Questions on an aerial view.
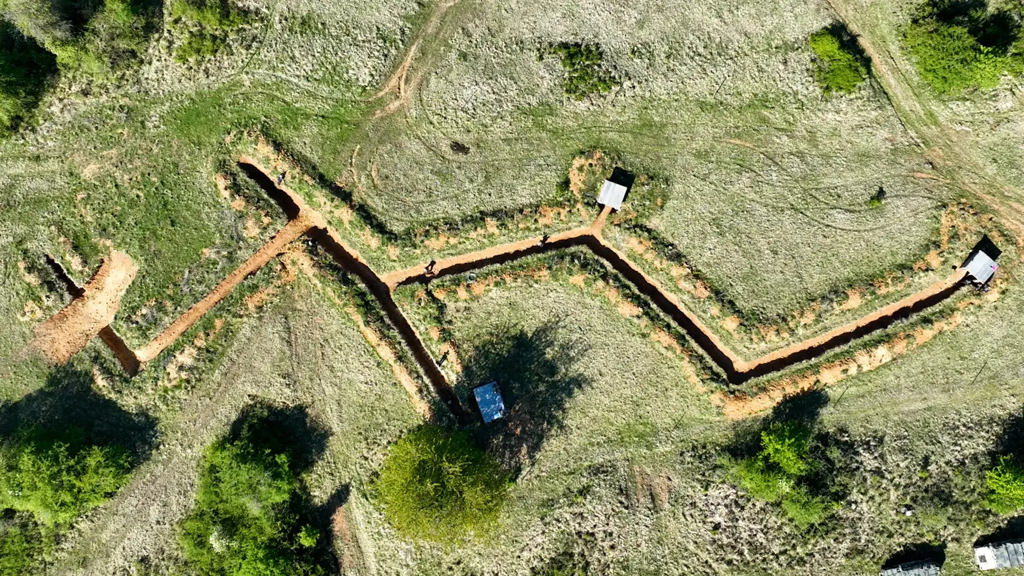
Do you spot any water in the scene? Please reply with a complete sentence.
No, water can't be seen anywhere here.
